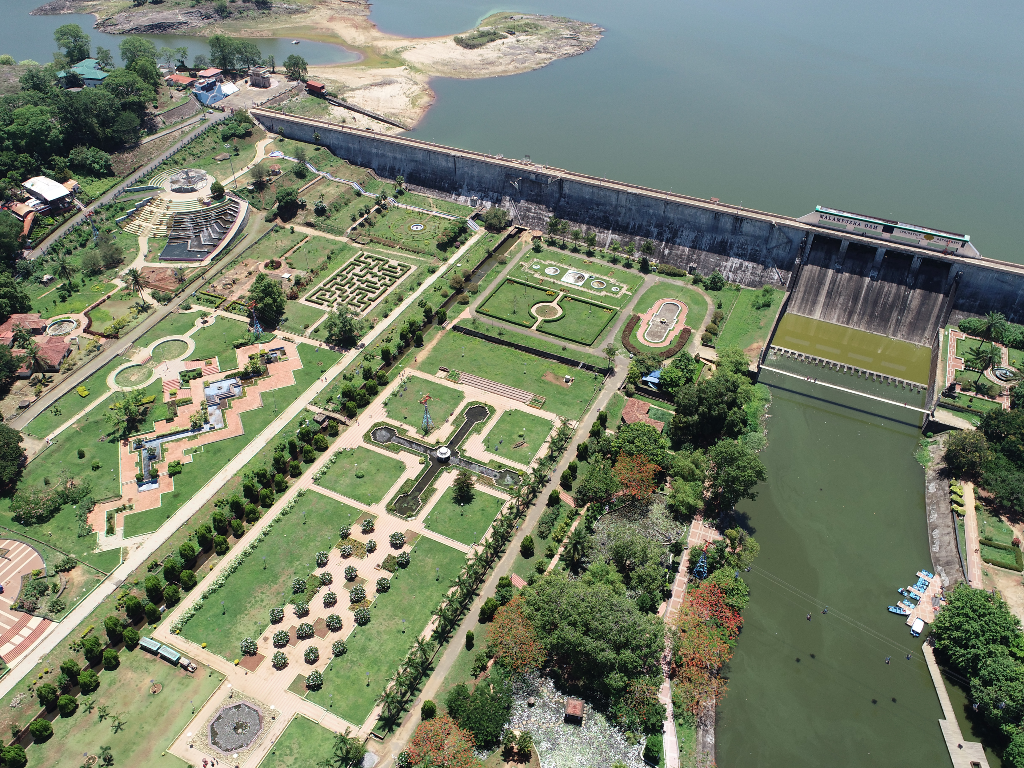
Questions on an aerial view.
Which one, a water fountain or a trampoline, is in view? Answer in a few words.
water fountain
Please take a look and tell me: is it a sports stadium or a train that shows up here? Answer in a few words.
train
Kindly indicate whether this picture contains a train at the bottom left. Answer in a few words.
Yes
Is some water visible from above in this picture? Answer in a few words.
Yes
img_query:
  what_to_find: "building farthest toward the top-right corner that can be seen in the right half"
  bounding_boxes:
[796,205,981,262]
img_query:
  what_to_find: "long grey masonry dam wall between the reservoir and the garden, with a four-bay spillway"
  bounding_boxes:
[255,111,1024,356]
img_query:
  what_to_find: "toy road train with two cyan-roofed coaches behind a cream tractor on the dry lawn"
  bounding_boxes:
[131,635,197,676]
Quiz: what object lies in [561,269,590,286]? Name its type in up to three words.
fountain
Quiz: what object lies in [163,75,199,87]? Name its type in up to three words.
building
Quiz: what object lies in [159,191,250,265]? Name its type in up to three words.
fountain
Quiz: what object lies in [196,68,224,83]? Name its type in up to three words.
building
